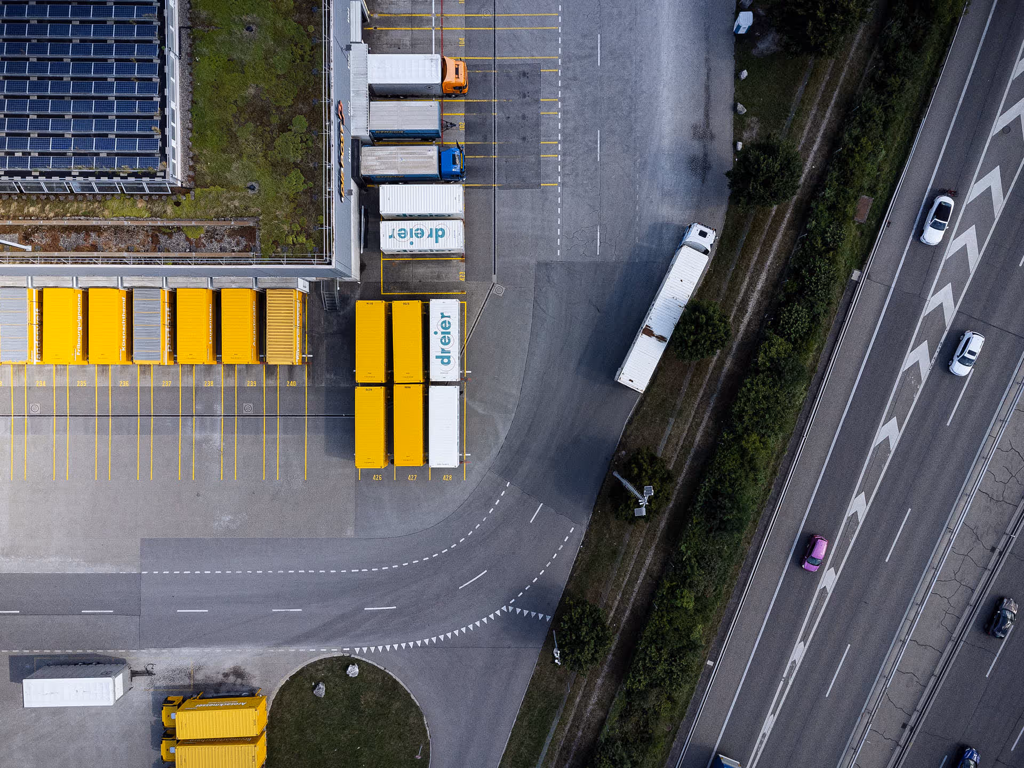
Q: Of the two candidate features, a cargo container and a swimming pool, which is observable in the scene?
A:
cargo container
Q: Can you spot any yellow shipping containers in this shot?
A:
Yes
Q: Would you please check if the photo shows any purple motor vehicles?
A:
Yes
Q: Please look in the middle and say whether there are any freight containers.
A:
Yes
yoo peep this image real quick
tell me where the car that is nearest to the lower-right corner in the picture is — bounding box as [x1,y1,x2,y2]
[952,745,981,768]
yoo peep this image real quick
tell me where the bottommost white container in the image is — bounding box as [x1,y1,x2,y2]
[429,385,460,467]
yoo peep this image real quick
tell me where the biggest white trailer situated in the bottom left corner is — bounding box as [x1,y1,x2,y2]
[23,660,157,707]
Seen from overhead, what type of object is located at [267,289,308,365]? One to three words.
shipping container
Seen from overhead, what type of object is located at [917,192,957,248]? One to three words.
car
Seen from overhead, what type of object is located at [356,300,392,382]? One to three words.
shipping container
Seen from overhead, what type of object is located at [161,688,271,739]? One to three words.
truck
